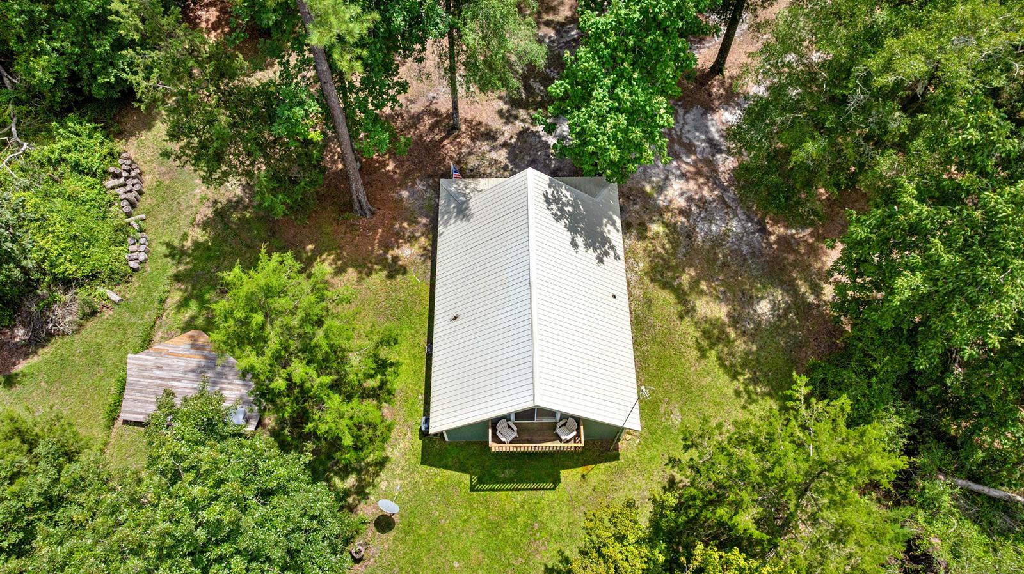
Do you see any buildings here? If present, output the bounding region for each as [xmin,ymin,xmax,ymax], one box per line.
[427,168,642,457]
